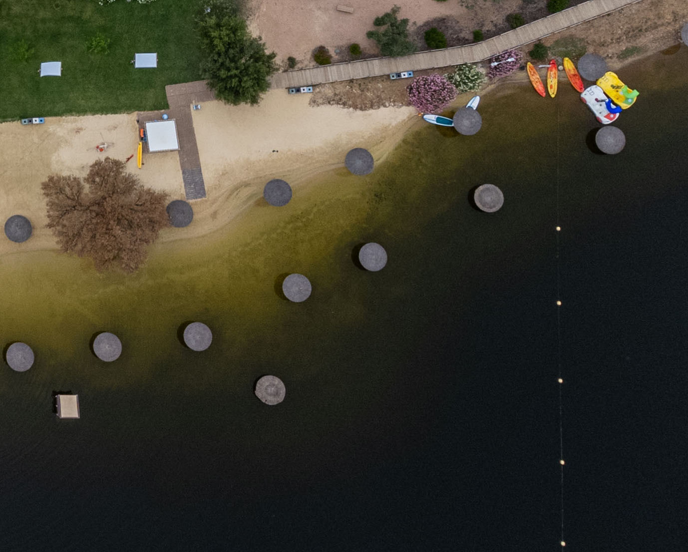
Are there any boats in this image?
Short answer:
Yes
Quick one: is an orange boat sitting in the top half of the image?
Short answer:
Yes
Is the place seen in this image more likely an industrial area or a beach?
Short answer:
beach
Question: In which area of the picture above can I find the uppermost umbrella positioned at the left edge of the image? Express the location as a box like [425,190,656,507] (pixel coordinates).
[5,213,34,242]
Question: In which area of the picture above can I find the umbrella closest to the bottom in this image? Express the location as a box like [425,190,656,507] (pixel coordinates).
[256,373,285,403]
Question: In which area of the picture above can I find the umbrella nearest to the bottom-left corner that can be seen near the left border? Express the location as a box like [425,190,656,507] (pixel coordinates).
[8,340,37,369]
